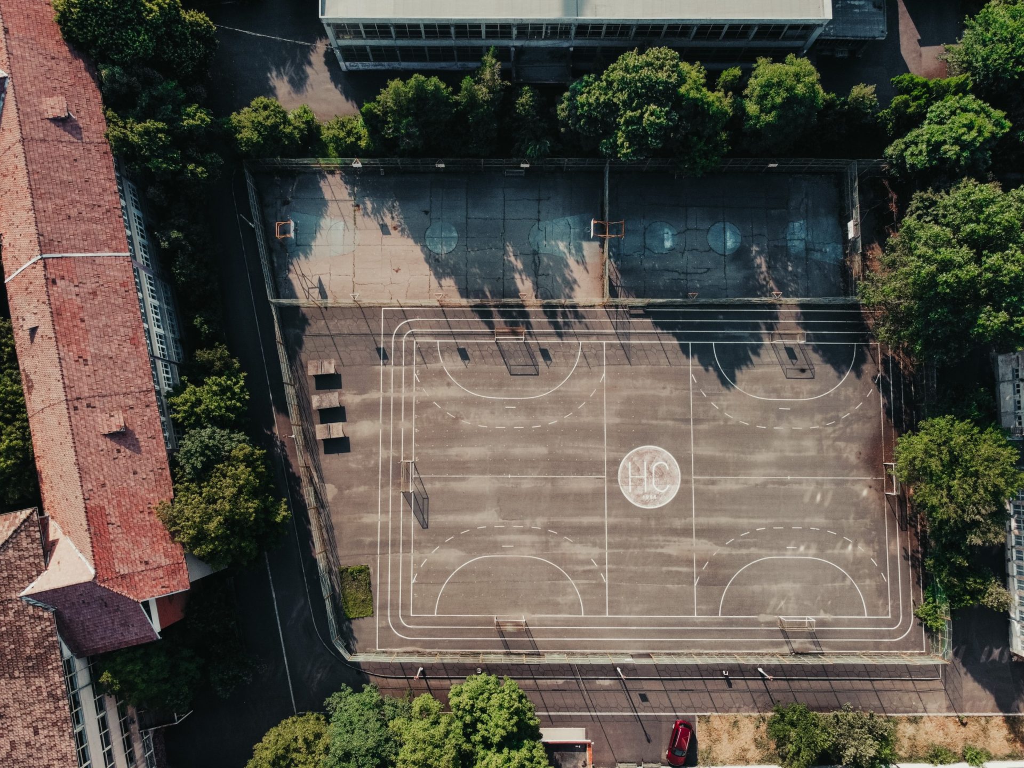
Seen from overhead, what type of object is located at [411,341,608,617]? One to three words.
sports court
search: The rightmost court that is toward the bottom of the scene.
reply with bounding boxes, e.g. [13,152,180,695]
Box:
[690,342,890,618]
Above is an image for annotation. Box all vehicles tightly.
[666,718,693,766]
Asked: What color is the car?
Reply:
red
